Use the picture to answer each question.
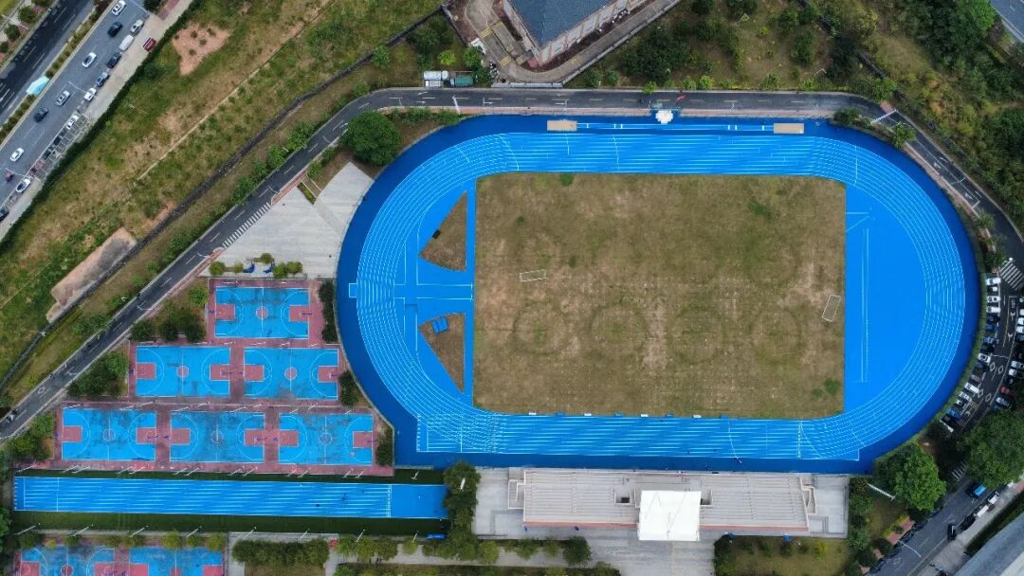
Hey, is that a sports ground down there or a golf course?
sports ground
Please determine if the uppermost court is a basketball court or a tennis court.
basketball court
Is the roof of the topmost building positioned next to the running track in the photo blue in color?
Yes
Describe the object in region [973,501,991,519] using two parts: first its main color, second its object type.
white vehicle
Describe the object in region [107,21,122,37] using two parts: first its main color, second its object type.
black car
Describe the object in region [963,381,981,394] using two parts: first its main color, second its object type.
white vehicle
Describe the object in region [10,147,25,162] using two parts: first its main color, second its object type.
white car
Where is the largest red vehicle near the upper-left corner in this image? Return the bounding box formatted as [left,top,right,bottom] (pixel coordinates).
[142,37,157,52]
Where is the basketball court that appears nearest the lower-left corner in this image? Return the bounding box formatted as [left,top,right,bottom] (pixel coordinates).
[21,547,114,576]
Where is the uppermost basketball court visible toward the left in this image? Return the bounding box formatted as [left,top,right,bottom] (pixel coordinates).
[215,288,309,339]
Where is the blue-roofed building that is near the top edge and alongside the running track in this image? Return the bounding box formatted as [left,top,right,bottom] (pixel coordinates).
[503,0,655,80]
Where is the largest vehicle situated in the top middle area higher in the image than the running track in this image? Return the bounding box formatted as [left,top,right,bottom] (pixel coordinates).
[449,74,474,86]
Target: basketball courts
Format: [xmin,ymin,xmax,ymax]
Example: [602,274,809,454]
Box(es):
[21,547,114,576]
[244,348,338,399]
[62,409,156,462]
[279,413,373,466]
[136,347,230,397]
[215,288,309,339]
[129,548,223,576]
[170,411,264,464]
